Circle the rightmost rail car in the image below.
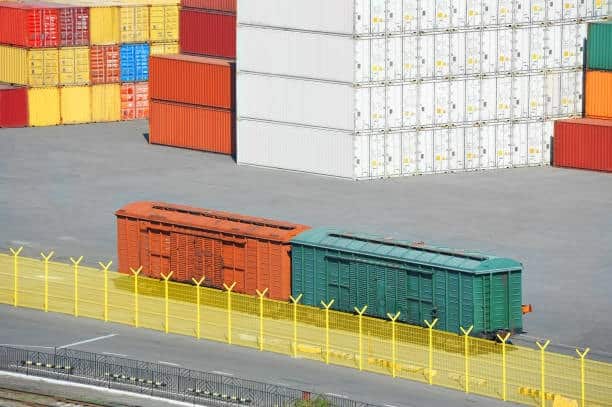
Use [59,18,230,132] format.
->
[290,230,528,357]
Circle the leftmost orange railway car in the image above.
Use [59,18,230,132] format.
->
[114,202,316,321]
